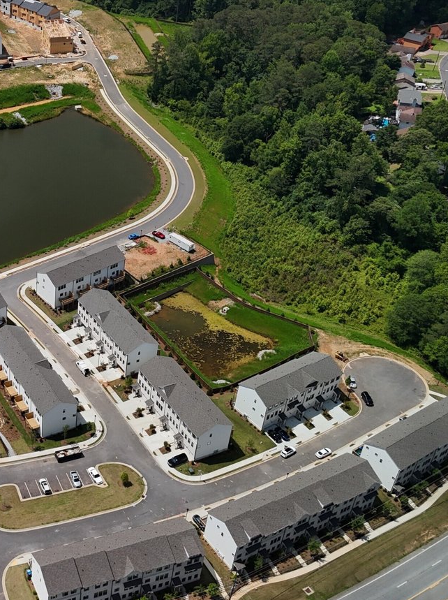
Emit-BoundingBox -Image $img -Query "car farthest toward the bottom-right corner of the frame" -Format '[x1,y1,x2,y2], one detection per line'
[315,445,332,457]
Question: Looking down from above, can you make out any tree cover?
Yes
